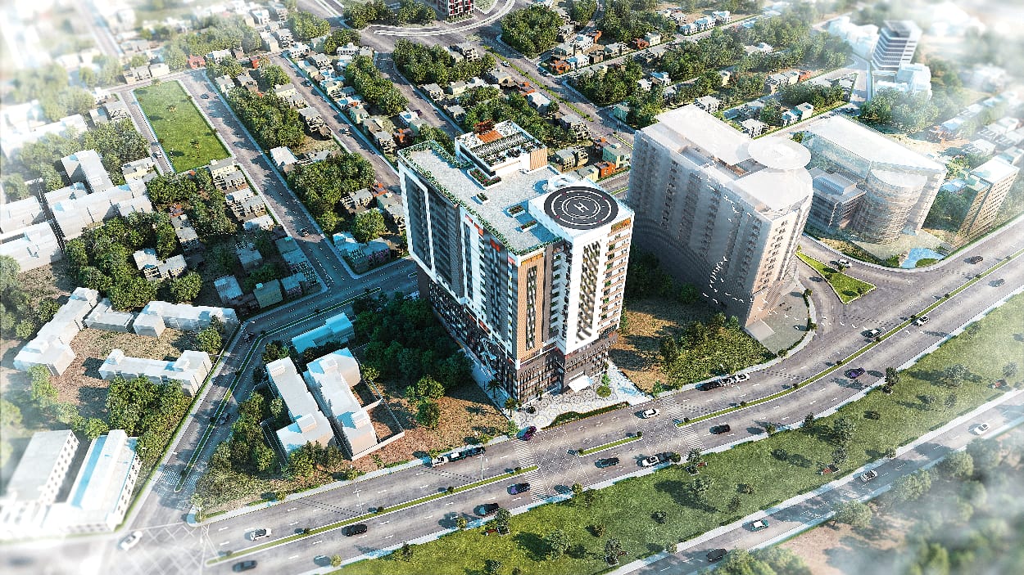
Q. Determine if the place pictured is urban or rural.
urban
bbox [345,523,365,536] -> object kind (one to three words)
vehicle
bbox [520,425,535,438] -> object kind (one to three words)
vehicle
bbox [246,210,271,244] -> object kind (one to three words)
house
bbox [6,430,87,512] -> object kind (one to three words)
building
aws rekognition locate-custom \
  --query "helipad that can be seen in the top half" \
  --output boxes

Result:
[545,183,616,223]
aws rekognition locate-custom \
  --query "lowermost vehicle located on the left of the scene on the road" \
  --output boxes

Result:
[234,559,255,572]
